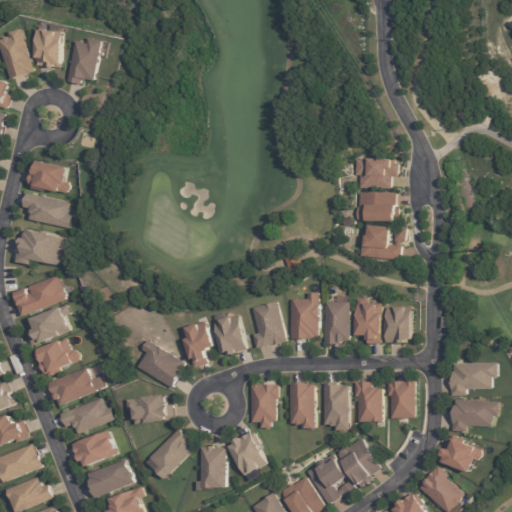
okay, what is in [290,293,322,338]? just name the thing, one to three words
house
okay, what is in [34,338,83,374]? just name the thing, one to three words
house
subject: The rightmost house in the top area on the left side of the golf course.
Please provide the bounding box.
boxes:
[68,40,102,83]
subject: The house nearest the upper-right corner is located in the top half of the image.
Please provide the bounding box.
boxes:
[356,158,402,189]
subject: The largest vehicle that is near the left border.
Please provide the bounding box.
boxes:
[10,356,24,375]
